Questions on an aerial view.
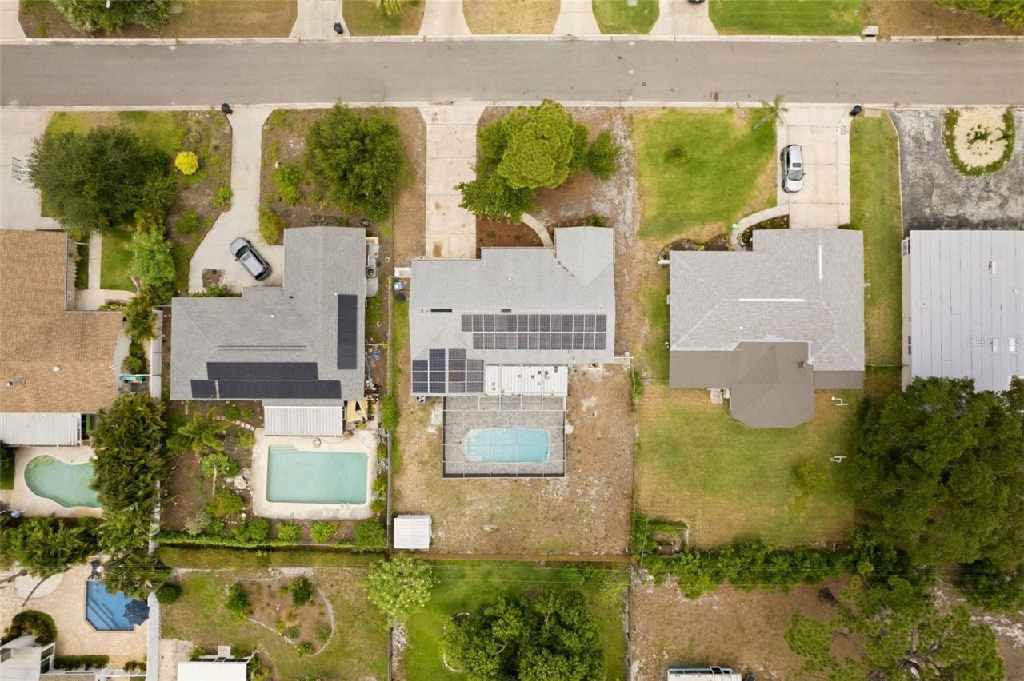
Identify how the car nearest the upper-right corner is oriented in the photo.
up and down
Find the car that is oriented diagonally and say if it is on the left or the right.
left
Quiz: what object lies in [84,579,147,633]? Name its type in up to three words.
swimming pool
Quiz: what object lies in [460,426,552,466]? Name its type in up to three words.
swimming pool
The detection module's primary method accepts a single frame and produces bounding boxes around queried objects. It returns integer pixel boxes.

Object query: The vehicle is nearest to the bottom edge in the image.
[230,236,273,283]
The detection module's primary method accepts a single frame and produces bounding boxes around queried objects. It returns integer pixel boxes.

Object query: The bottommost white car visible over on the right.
[780,143,806,194]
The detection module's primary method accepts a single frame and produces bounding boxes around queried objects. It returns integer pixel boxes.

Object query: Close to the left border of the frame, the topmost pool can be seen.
[22,452,117,511]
